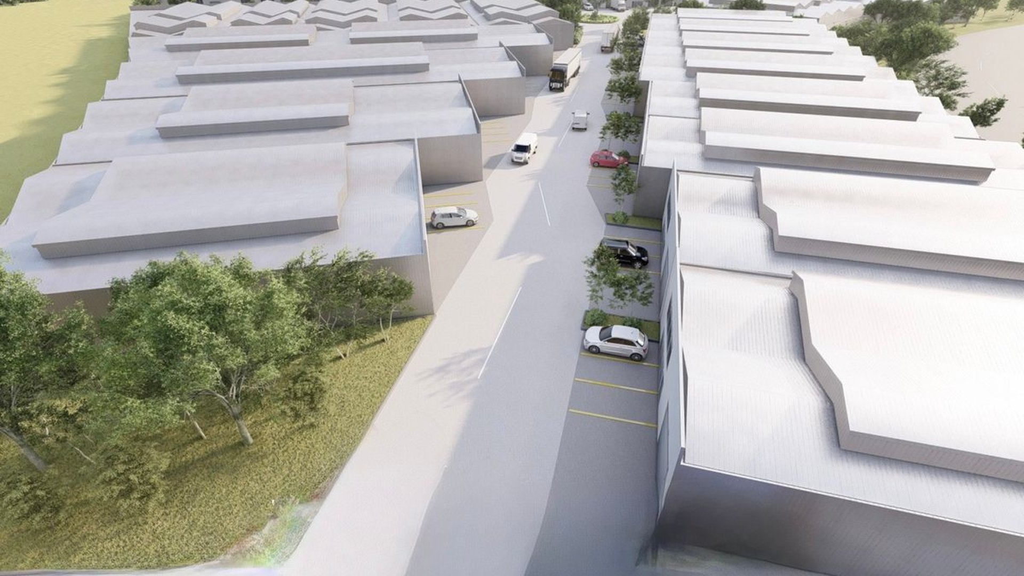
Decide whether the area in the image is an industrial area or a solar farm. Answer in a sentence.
What you see here is an industrial area.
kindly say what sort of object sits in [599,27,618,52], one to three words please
vehicle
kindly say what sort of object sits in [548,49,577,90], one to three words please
truck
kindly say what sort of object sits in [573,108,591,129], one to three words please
vehicle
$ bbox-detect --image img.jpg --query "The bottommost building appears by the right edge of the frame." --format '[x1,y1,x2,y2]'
[656,253,1024,576]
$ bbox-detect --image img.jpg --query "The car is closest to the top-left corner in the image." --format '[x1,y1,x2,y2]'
[433,206,475,228]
